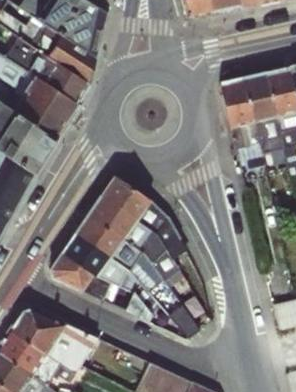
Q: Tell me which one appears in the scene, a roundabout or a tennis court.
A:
roundabout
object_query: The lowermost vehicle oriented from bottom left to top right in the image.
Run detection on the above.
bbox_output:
[25,238,42,260]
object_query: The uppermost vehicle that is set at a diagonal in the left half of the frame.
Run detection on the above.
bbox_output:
[26,188,44,209]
